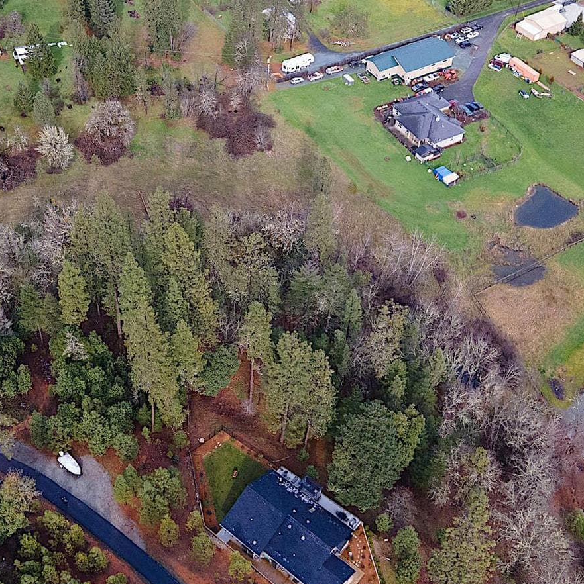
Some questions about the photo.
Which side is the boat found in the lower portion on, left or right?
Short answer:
left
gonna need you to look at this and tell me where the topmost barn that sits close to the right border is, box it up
[513,7,568,45]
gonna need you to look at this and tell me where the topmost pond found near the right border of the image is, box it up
[513,184,578,228]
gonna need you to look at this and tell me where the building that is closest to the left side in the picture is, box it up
[11,44,34,69]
